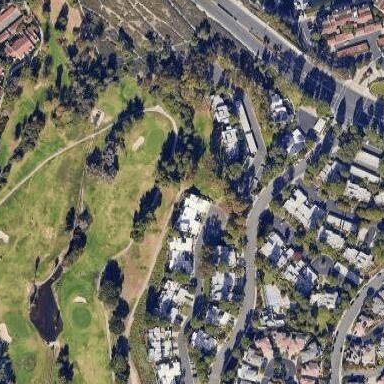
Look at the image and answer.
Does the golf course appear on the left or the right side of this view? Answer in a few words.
left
